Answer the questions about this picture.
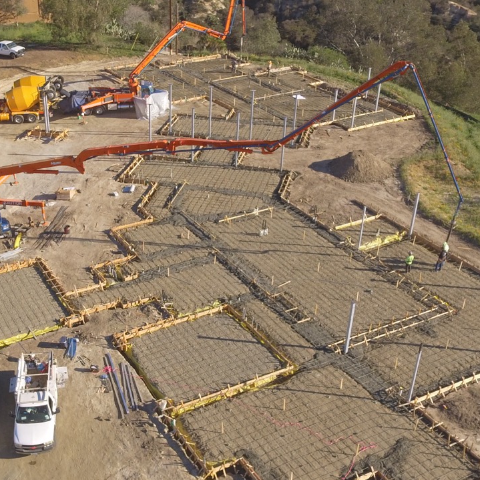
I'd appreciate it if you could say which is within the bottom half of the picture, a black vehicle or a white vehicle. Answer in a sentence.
The feature located within the bottom half of the picture is a white vehicle.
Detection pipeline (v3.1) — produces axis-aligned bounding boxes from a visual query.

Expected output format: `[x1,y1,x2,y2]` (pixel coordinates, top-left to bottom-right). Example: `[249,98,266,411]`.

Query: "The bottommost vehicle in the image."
[4,343,68,449]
